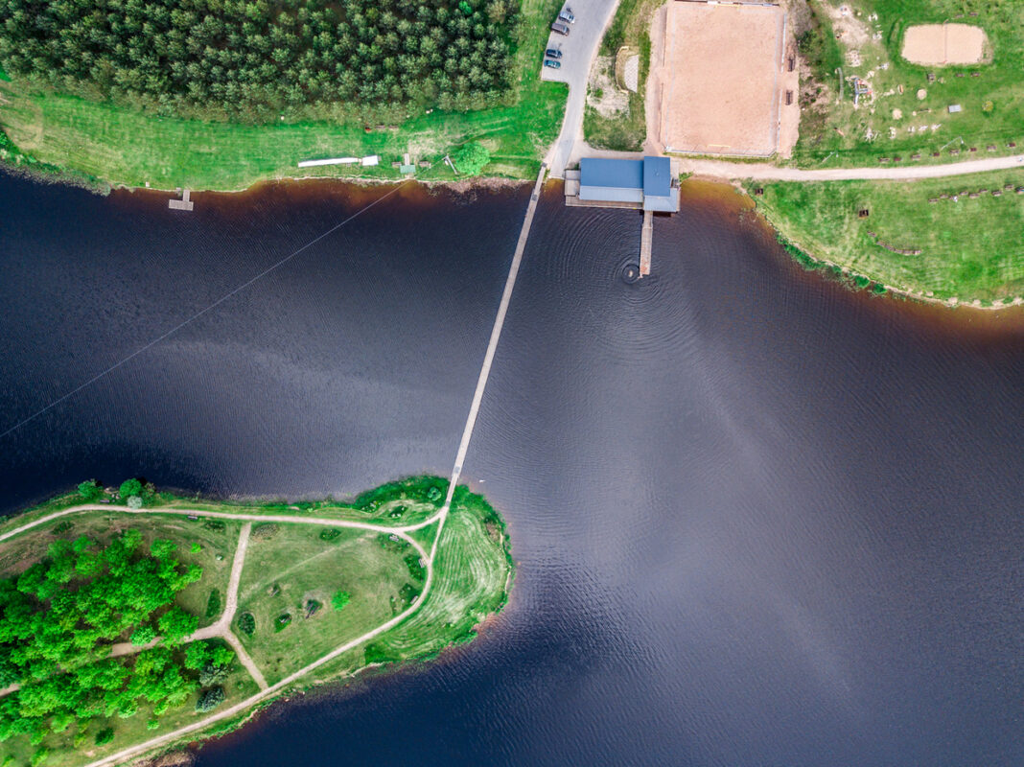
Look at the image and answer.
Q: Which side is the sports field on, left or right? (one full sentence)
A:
It is on the right.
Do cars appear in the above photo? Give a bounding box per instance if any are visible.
[544,58,561,68]
[546,48,563,58]
[551,20,570,35]
[558,10,576,23]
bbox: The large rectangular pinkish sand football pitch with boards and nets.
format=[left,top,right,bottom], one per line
[660,0,787,156]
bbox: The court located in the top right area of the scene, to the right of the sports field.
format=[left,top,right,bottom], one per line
[902,21,988,66]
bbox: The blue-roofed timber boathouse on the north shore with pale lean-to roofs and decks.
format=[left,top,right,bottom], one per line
[565,156,680,212]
